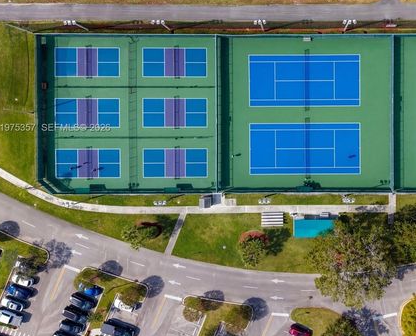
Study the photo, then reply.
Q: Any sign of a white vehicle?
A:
Yes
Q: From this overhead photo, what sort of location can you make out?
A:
sports ground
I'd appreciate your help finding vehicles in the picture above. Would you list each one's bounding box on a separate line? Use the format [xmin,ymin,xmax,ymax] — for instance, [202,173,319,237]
[0,309,23,329]
[80,284,102,296]
[61,319,85,335]
[12,273,36,289]
[6,284,32,301]
[62,306,89,323]
[290,323,311,336]
[1,297,26,314]
[71,292,96,309]
[114,296,136,314]
[101,321,133,336]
